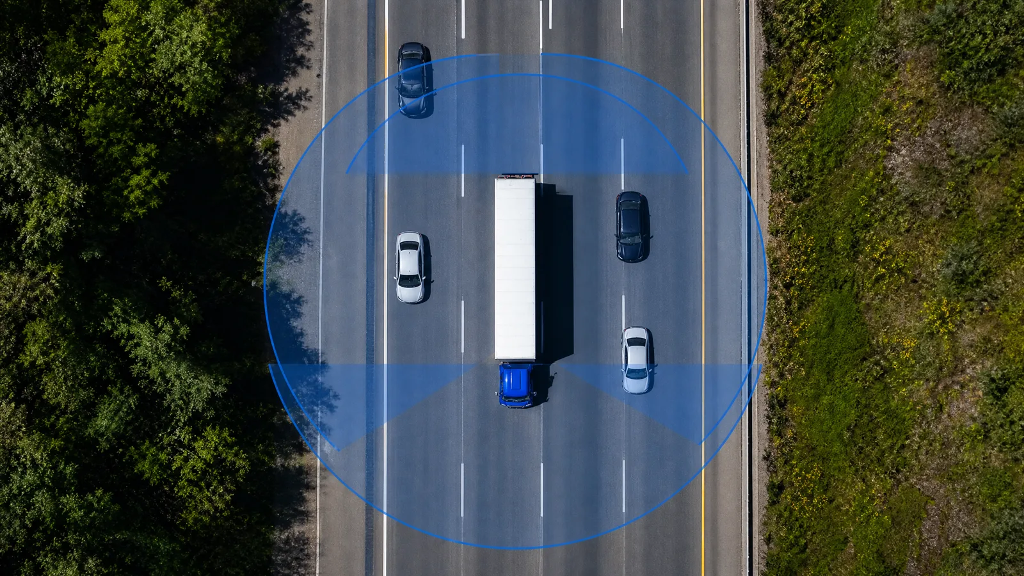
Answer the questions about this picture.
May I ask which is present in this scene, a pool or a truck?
truck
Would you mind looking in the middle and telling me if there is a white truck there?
Yes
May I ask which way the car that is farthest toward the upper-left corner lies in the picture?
from top to bottom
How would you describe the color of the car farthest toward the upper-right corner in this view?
black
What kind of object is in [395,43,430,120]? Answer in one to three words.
car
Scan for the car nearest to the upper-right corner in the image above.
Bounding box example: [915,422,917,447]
[614,192,648,262]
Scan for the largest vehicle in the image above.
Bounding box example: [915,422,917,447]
[494,174,538,410]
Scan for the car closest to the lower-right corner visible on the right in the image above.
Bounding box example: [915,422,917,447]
[619,326,653,393]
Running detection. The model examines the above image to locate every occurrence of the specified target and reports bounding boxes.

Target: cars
[395,43,430,120]
[393,231,426,304]
[619,326,653,393]
[614,192,648,262]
